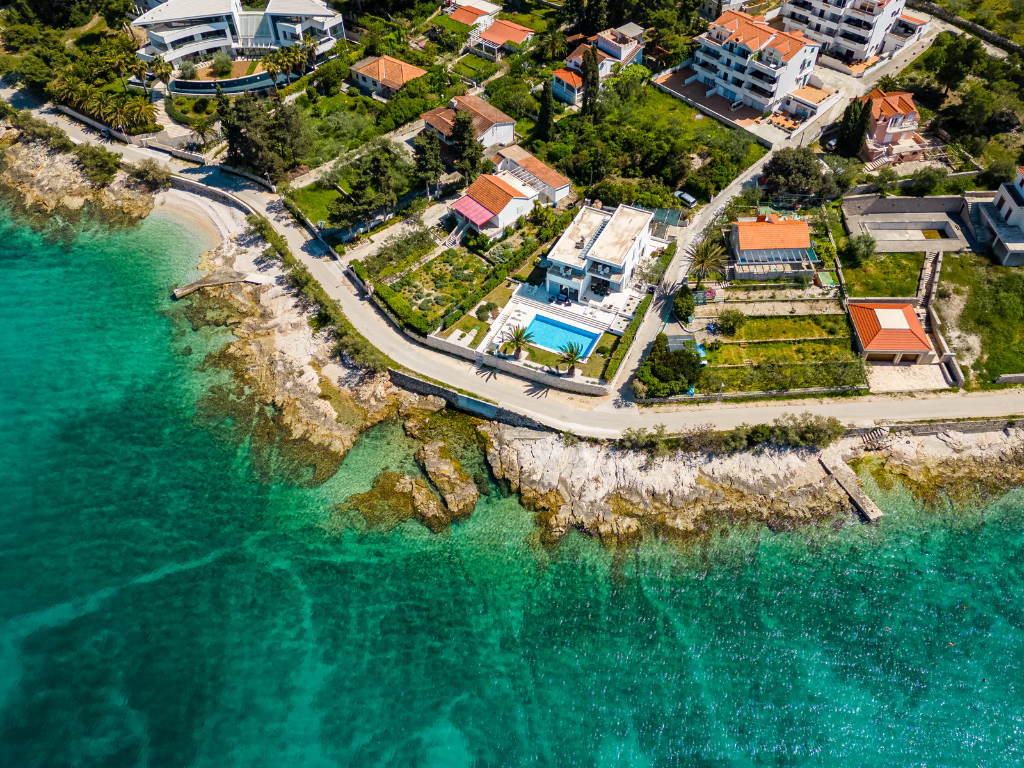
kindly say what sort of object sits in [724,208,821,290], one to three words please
house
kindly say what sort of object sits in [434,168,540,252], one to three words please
house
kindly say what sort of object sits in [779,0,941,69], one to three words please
building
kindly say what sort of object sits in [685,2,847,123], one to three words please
building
